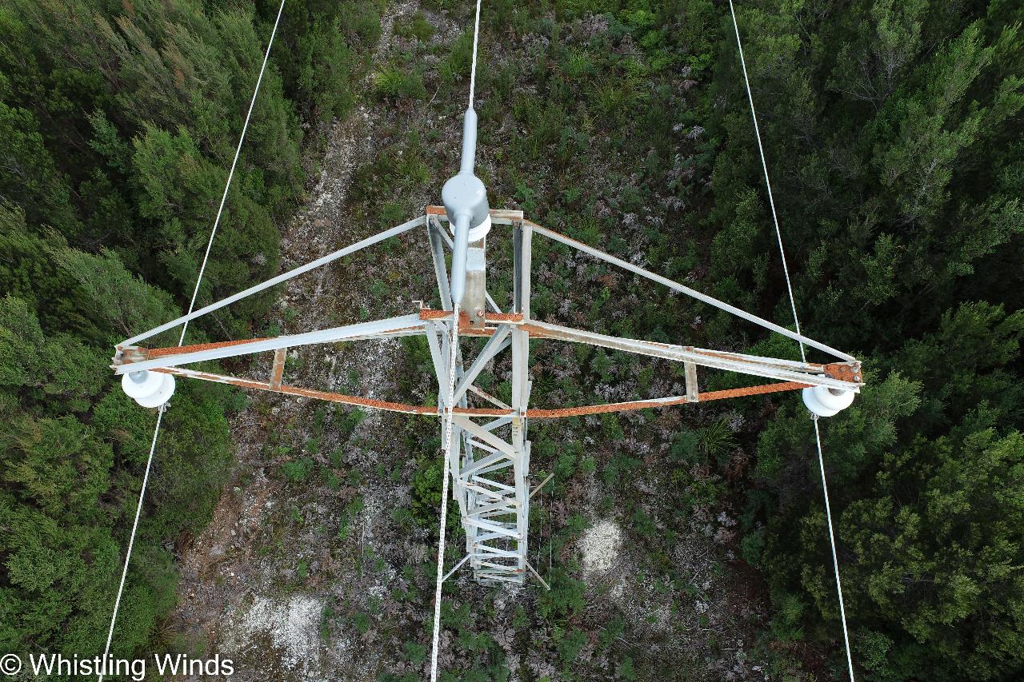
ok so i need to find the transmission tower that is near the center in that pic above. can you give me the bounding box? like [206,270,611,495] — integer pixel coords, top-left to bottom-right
[111,206,864,586]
